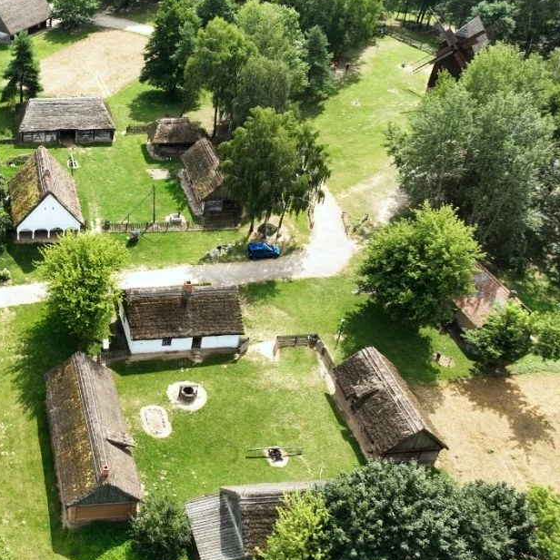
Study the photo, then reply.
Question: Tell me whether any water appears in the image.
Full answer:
No, the scene doesn't show any water.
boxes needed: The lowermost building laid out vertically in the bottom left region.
[42,348,142,530]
